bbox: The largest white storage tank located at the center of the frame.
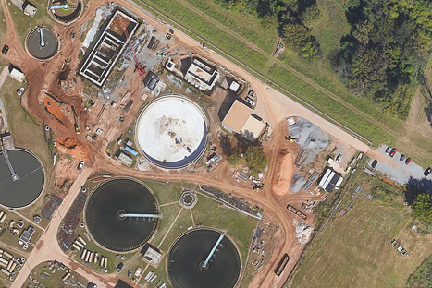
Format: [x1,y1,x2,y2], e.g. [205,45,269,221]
[134,94,209,170]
